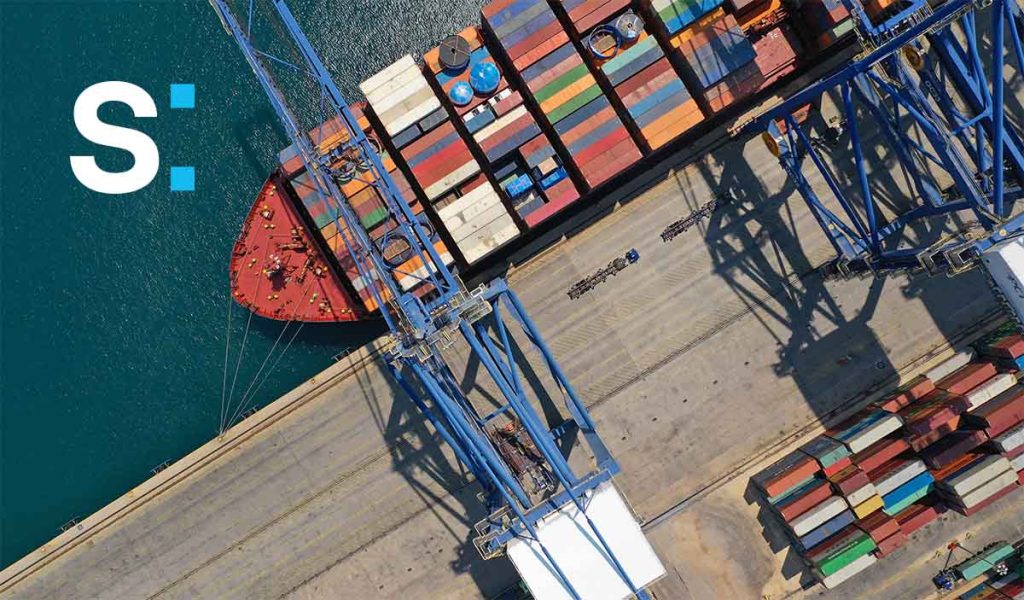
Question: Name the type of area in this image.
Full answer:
This looks like a port.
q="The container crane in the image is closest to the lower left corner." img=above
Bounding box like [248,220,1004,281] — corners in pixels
[203,0,668,600]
